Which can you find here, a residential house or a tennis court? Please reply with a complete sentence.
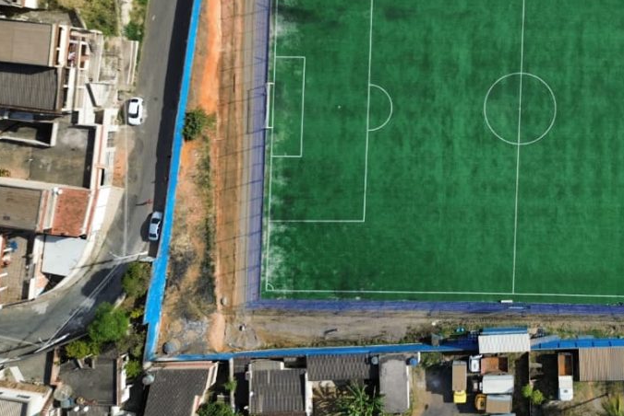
The one in the frame is a residential house.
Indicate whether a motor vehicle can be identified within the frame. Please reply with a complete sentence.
Yes, I can see a motor vehicle in this picture.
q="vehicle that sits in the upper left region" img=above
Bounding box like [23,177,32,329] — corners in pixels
[125,97,142,124]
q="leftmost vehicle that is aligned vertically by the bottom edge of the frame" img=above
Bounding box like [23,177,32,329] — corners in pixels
[452,357,468,401]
